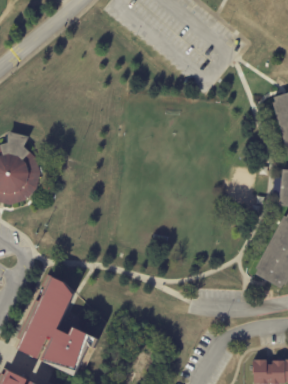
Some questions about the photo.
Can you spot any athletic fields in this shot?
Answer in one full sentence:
Yes, looking at the shot, I can spot an athletic field.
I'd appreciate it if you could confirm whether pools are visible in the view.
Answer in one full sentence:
No, the picture doesn't show any pool.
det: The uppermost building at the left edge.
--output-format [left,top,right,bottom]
[0,133,39,205]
